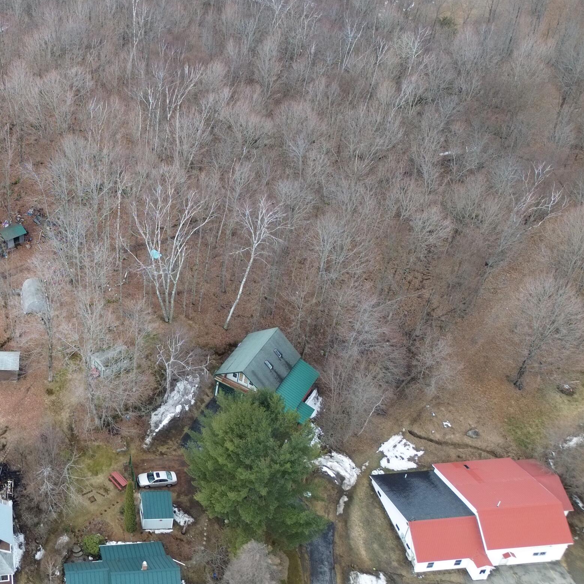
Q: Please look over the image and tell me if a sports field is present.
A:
No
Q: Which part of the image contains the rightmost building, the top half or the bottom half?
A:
bottom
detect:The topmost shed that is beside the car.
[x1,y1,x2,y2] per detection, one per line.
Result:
[139,486,176,529]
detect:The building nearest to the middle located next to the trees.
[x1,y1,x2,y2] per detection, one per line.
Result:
[213,329,319,435]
